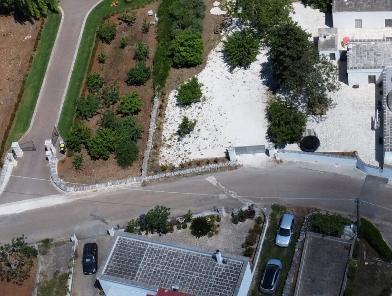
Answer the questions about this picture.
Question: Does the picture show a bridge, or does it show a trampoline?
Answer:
trampoline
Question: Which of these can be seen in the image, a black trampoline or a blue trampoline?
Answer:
black trampoline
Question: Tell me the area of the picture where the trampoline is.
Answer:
right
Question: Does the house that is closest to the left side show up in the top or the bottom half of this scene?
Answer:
bottom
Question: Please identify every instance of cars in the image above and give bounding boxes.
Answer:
[260,260,283,295]
[276,213,296,248]
[81,241,100,276]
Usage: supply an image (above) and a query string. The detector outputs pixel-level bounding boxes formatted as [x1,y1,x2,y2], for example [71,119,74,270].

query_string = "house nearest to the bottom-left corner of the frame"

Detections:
[99,233,248,296]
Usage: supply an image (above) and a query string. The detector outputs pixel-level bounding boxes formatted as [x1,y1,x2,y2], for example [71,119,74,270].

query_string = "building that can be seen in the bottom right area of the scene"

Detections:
[292,234,350,296]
